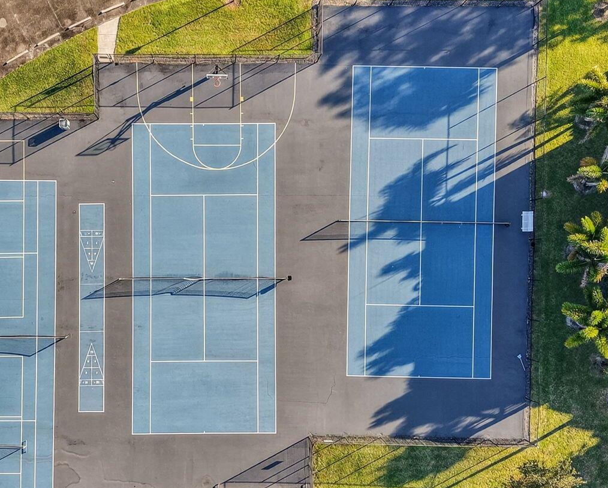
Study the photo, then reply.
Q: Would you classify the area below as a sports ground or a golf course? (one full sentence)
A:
The area seen from above is a sports ground.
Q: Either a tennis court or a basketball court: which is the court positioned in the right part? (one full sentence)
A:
The court positioned in the right part in the image is a tennis court.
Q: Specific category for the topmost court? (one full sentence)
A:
Looking closely, the topmost court is a basketball court.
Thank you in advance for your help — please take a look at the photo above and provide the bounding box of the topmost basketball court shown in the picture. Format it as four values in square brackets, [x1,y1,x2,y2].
[137,62,296,170]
